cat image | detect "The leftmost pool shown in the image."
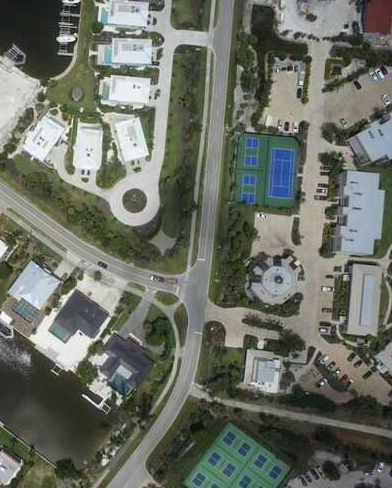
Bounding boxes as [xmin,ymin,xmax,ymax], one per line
[15,300,35,321]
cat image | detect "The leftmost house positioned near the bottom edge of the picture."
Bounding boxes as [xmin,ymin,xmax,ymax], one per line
[0,449,23,483]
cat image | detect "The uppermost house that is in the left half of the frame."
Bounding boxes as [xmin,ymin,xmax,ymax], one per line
[105,0,147,31]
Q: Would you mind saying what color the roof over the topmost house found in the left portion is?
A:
white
